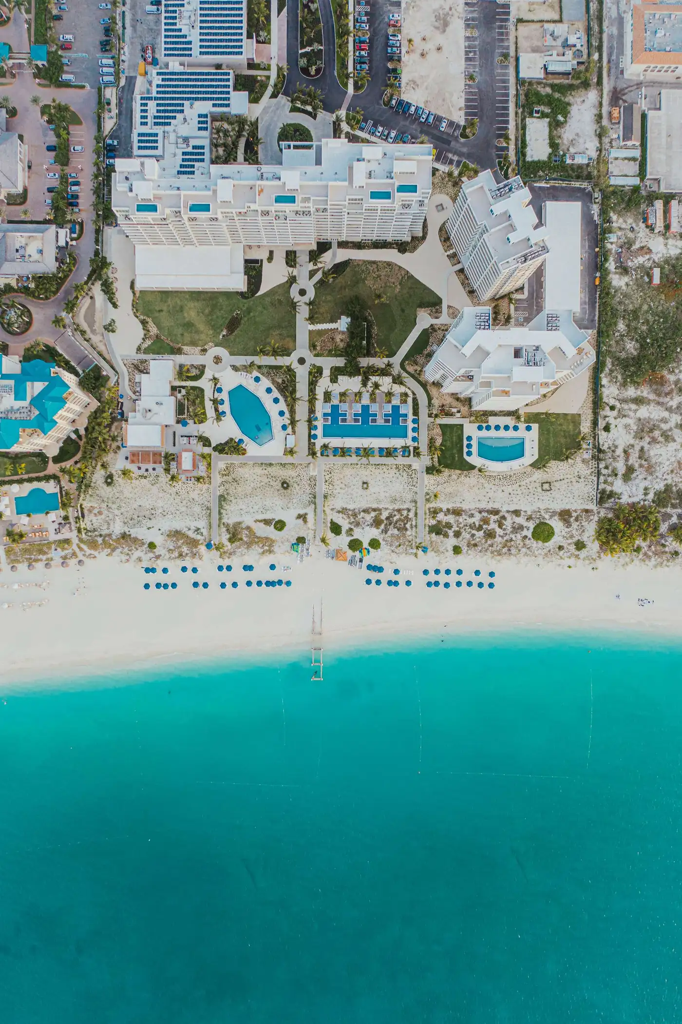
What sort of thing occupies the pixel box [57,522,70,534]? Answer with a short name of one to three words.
gazebo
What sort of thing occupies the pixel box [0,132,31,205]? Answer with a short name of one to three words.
house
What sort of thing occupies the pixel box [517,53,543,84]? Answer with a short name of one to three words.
building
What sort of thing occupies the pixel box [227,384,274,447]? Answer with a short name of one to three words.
swimming pool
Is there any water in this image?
Yes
